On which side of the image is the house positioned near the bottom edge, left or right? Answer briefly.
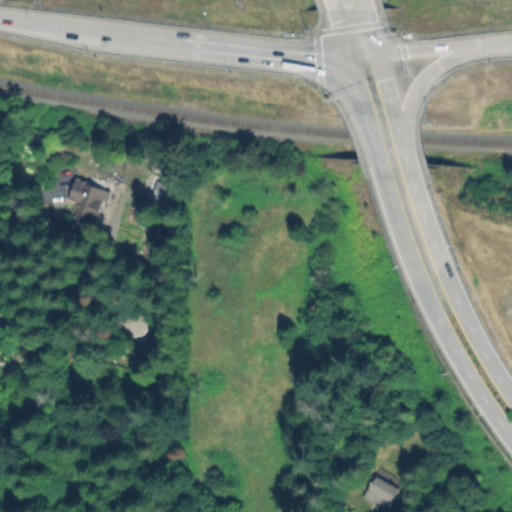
right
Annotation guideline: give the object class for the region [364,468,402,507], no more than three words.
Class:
house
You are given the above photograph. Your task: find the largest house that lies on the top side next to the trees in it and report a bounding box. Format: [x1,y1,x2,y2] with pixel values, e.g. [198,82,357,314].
[66,178,110,218]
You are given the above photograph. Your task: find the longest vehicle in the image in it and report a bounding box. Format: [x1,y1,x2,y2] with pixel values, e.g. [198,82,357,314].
[282,60,326,73]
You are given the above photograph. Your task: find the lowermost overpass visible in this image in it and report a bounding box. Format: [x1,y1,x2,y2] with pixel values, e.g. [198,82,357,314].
[316,118,479,169]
